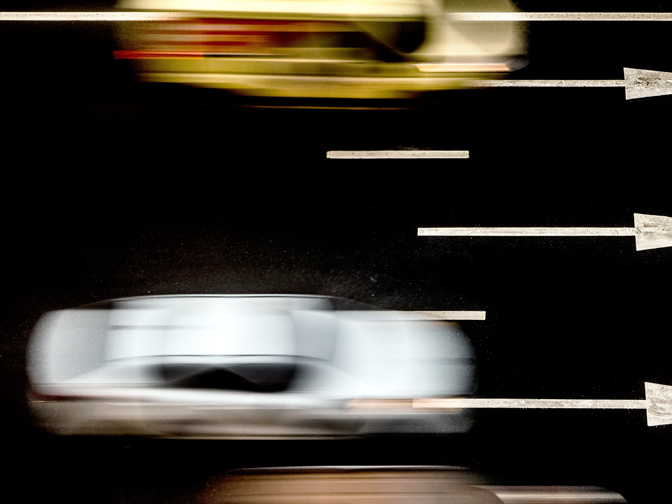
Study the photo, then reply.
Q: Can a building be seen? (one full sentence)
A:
No, the frame has no building in it.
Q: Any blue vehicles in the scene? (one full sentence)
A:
No, the scene contains no blue vehicle.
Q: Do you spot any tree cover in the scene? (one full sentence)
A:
No, there is no tree cover in the image.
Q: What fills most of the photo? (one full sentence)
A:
For the most part, this view shows paved ground.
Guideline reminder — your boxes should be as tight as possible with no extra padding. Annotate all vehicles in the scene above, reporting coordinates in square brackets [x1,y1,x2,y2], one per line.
[221,461,605,504]
[32,282,469,436]
[122,0,526,111]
